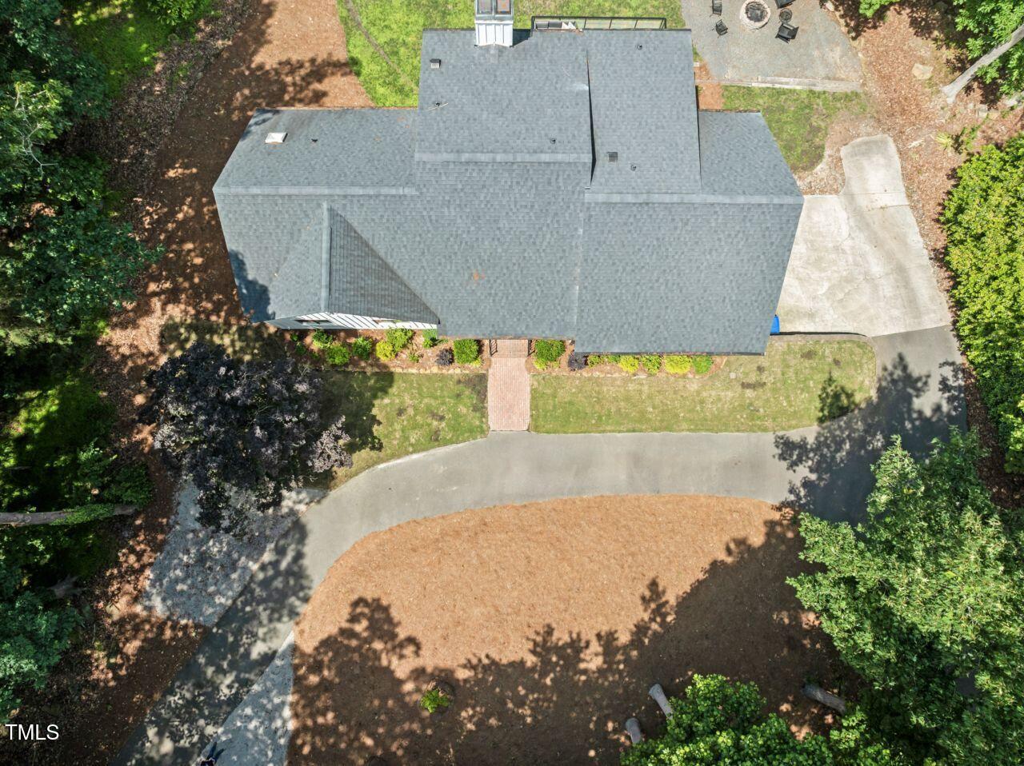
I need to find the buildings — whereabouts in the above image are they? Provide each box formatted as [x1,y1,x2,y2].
[214,0,803,359]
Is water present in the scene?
No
